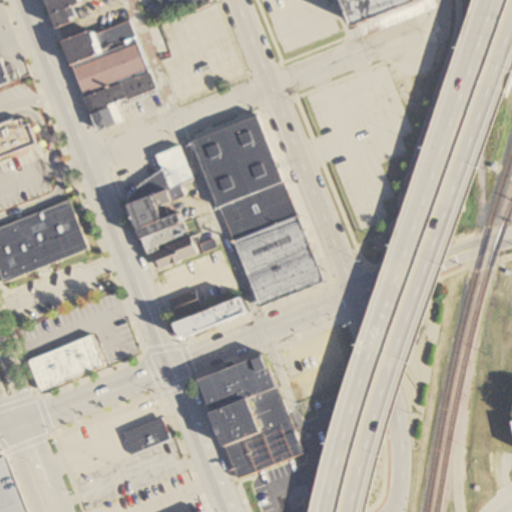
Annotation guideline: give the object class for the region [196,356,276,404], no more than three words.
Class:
building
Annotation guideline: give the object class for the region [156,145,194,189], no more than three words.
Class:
building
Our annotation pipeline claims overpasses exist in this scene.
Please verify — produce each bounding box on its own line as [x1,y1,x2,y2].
[333,0,512,512]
